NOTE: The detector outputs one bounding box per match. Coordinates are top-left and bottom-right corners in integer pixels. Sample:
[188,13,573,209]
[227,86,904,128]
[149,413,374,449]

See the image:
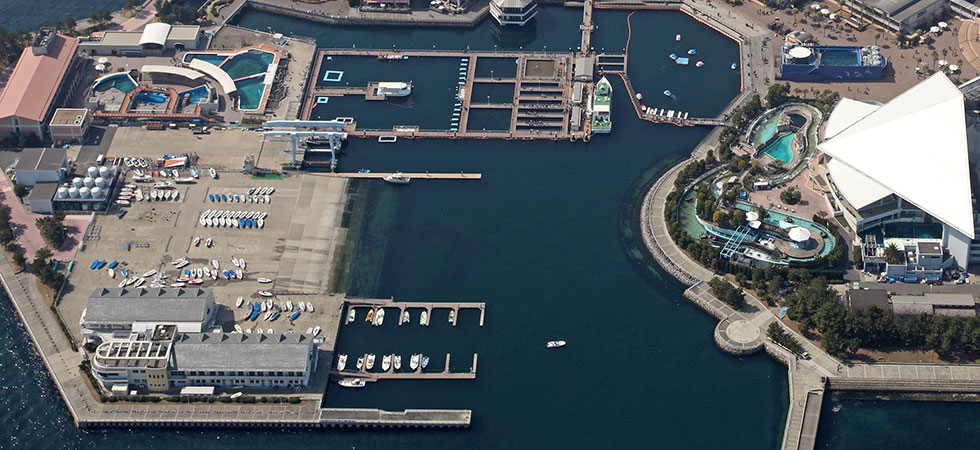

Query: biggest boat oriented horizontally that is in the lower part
[338,379,367,392]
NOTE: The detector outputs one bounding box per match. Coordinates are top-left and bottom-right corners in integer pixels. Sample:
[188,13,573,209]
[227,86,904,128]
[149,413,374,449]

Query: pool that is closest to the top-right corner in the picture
[821,49,858,66]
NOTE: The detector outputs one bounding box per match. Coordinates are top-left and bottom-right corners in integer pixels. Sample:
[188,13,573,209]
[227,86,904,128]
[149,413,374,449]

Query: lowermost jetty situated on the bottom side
[322,408,471,432]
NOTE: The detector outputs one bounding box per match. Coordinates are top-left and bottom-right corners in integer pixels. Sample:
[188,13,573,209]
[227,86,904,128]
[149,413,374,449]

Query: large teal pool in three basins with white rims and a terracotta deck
[182,44,284,119]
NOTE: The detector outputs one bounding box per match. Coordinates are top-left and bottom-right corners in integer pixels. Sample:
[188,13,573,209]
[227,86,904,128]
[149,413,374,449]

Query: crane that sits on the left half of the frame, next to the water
[262,118,350,171]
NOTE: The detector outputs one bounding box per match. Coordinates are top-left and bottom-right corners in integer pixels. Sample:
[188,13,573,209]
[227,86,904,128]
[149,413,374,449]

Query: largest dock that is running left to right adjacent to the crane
[303,48,583,140]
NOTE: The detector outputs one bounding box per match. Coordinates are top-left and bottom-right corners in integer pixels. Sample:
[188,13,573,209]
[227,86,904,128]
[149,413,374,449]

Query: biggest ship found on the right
[593,77,612,137]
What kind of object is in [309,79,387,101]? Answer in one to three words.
pier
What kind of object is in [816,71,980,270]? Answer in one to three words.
building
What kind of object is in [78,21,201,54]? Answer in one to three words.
building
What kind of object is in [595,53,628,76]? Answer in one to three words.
pier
